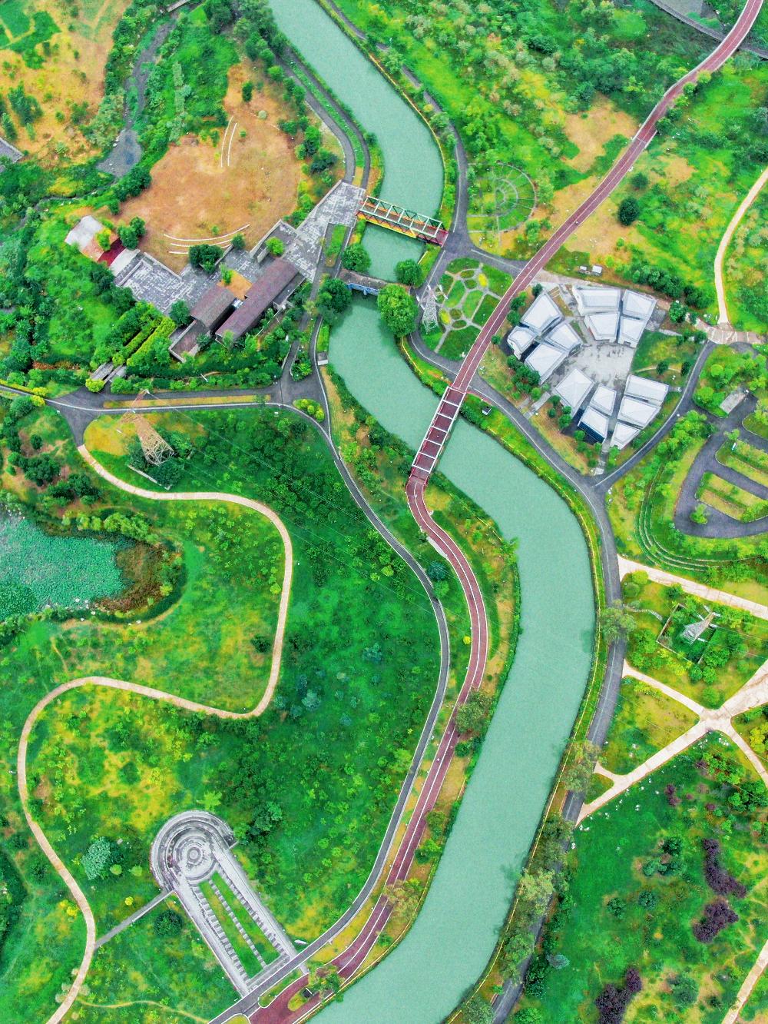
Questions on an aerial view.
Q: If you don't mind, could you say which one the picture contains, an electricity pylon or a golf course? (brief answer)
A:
electricity pylon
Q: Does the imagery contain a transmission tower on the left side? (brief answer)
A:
Yes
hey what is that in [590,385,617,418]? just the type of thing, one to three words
building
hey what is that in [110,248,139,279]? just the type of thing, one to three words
shed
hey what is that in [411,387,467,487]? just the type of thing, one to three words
bridge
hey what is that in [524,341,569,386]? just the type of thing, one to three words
building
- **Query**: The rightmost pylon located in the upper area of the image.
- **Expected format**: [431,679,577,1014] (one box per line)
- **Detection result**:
[418,286,447,333]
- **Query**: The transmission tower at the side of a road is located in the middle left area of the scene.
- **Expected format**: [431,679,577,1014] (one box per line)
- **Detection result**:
[122,397,175,468]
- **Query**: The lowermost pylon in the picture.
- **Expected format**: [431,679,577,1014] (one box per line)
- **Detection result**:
[682,603,722,644]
